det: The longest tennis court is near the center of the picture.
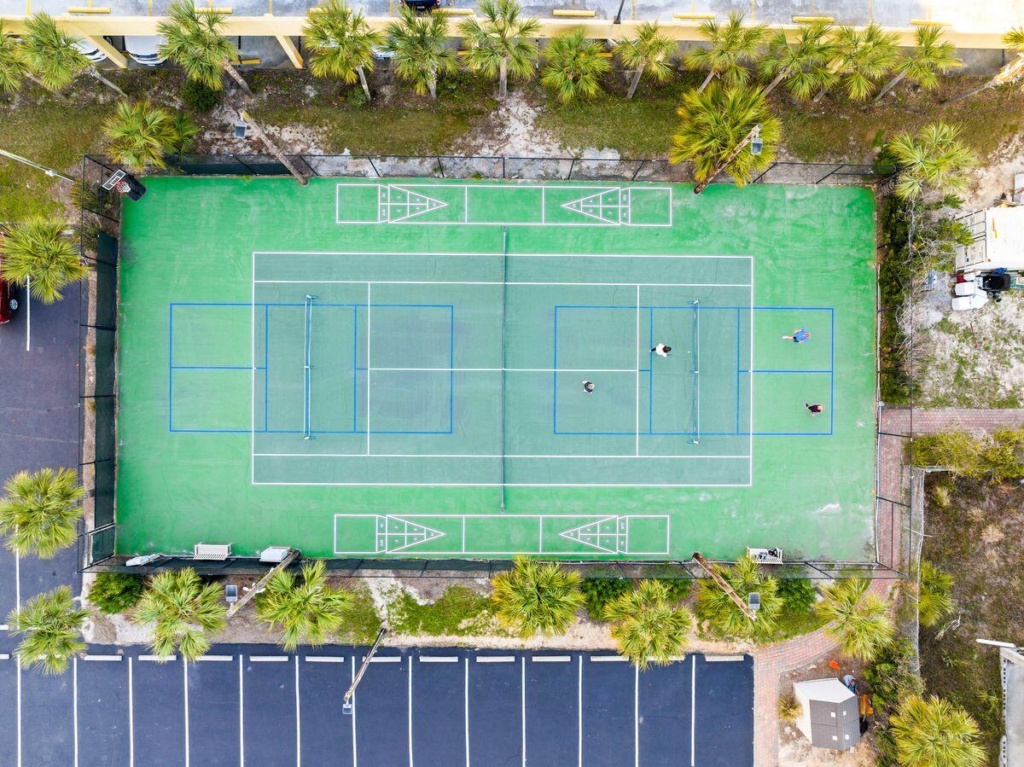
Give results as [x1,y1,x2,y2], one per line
[115,178,877,562]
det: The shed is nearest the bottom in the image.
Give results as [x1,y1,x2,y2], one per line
[793,677,861,754]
